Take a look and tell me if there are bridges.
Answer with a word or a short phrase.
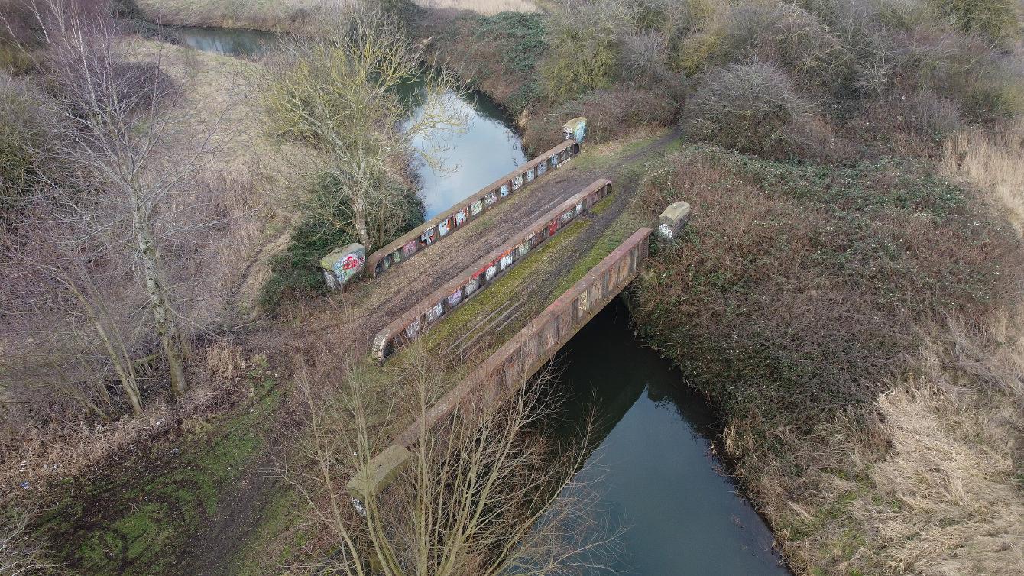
Yes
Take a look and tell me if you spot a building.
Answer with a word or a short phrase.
No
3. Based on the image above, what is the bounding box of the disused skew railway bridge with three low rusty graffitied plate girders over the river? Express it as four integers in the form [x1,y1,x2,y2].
[358,142,653,485]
